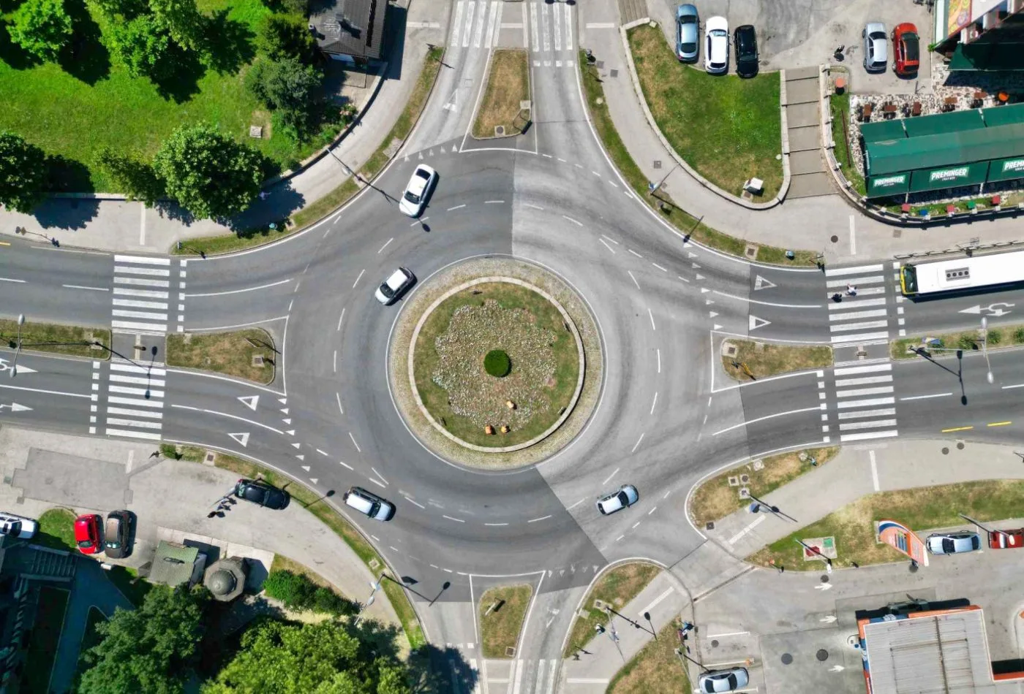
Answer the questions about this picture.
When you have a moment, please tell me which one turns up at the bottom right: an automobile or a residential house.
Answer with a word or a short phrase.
automobile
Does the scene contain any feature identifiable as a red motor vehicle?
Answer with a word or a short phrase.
Yes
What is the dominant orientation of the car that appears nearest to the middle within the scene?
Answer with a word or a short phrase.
at an angle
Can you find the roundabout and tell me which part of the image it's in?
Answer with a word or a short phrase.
center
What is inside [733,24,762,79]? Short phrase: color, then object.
black car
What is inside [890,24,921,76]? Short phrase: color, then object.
red car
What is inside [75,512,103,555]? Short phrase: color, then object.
red car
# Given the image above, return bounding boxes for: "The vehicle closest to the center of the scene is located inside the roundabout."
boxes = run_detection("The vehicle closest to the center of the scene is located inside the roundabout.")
[374,266,417,305]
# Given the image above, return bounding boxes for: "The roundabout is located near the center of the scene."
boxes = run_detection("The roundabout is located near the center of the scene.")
[167,36,750,602]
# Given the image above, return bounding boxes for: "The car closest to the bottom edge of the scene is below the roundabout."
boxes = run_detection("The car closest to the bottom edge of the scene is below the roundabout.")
[696,664,749,694]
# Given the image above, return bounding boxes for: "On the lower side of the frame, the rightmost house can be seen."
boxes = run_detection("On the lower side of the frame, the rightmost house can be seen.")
[205,547,259,600]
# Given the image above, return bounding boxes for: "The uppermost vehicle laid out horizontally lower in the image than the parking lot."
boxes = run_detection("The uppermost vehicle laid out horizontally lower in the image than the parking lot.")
[901,251,1024,297]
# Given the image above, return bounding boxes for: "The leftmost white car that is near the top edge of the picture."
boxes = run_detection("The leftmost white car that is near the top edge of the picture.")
[703,17,732,75]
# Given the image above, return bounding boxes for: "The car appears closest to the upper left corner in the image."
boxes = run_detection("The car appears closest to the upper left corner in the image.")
[400,162,436,218]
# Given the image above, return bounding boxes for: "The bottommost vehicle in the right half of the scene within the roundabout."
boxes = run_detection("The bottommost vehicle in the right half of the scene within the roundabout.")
[595,484,640,516]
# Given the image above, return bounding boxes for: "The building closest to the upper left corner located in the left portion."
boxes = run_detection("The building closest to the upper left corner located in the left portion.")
[307,0,390,66]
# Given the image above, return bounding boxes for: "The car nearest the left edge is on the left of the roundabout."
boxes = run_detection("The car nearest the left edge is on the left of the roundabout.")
[0,511,41,541]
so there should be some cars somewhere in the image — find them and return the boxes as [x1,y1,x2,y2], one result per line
[733,24,762,79]
[703,17,732,75]
[674,5,701,62]
[103,509,133,558]
[696,664,749,694]
[860,23,889,73]
[343,486,396,522]
[890,24,921,76]
[923,530,980,557]
[400,162,436,218]
[75,512,103,555]
[595,484,640,516]
[374,266,417,305]
[881,593,934,617]
[234,477,292,512]
[0,511,41,541]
